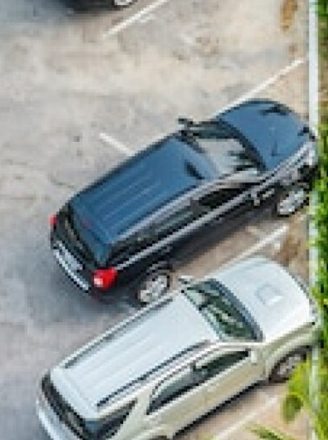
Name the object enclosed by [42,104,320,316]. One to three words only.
car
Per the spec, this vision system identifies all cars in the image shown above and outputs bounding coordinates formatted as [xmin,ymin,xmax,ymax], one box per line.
[42,104,320,316]
[31,255,319,440]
